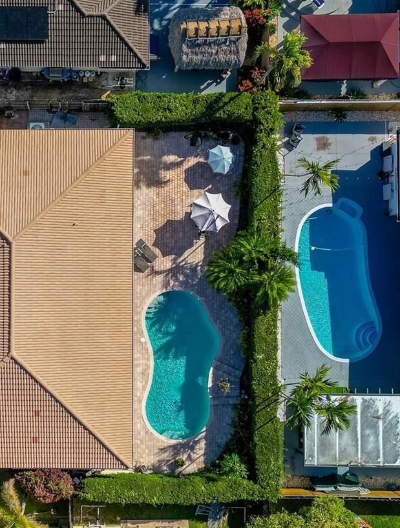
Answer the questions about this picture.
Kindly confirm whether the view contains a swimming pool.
Yes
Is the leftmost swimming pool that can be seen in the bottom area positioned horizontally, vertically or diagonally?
vertically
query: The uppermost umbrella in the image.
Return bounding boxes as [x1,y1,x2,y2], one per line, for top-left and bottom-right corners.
[206,147,232,174]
